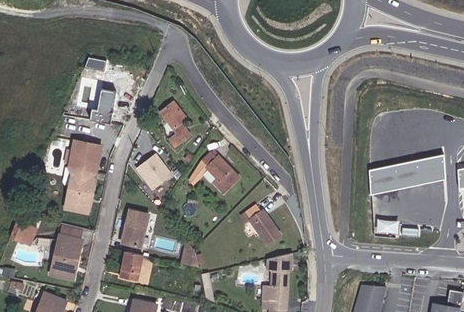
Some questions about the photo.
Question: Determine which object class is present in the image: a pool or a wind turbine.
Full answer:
I can see a pool in this picture.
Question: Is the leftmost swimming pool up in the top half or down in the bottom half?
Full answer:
The leftmost swimming pool is in the bottom half of the image.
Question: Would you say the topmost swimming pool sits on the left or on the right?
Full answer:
The topmost swimming pool appears in the left half of the scene.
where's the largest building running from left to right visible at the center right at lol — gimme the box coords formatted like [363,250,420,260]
[368,154,445,196]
